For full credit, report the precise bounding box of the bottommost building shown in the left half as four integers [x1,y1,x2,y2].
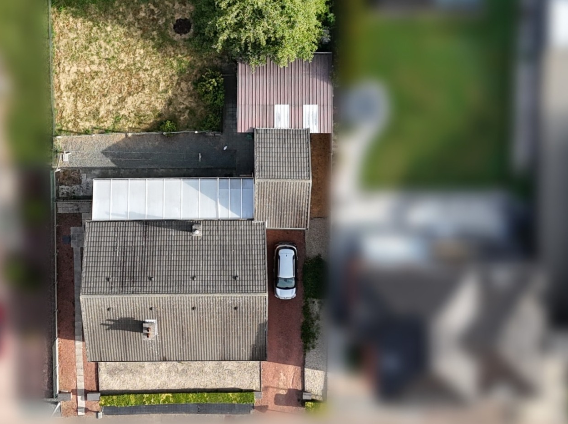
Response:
[78,217,270,363]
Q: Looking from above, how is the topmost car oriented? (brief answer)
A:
from top to bottom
